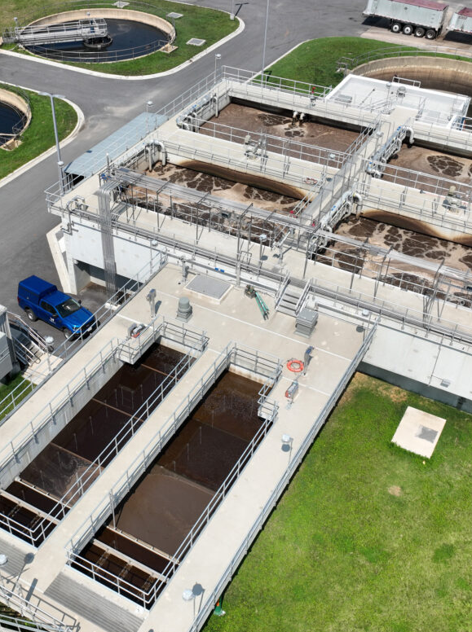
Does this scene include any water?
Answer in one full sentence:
Yes, there's water in this view.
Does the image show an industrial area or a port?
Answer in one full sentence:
This image shows an industrial area.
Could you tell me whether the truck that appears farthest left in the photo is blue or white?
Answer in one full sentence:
The color of the truck that appears farthest left is blue.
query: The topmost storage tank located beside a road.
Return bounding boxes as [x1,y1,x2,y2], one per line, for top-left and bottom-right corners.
[16,8,173,65]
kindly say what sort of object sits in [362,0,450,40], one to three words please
trailer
